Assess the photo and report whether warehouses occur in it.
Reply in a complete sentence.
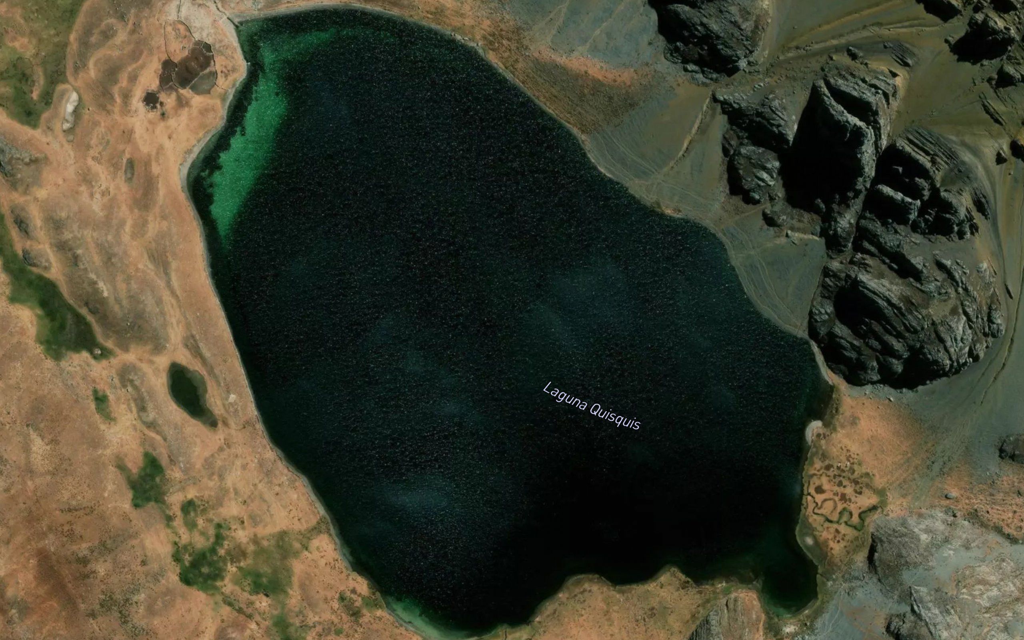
No, no warehouse can be seen from above.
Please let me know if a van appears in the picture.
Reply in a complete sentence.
No, this view has no van in it.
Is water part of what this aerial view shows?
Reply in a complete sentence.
Yes, the picture does contain water.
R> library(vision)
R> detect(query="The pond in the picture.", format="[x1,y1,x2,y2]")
[166,361,218,428]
